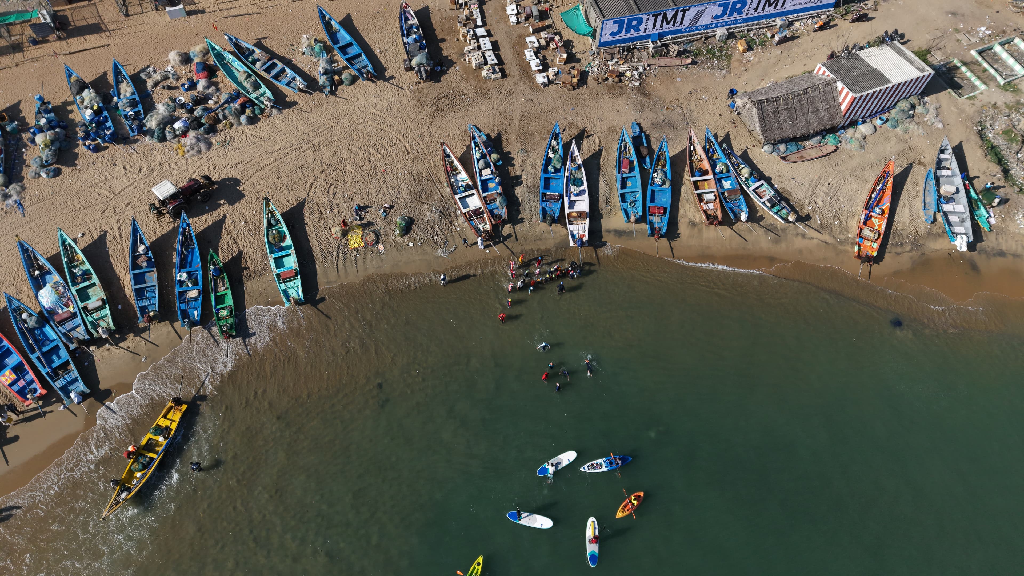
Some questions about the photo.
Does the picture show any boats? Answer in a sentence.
Yes, the picture does show a boat.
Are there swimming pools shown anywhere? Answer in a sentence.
No, there appears to be no swimming pool in this shot.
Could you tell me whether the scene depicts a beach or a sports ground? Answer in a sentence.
The area seen from above is a beach.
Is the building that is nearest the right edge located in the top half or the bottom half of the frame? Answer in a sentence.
The top half of the photo is where the building that is nearest the right edge is.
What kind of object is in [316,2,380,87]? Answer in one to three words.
boat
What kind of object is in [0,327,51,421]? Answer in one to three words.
boat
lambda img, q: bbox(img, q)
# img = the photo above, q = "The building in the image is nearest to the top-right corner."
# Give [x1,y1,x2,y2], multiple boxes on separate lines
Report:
[820,36,938,120]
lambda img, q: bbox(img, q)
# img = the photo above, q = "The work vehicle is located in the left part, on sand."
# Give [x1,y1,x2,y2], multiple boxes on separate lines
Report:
[150,184,212,224]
